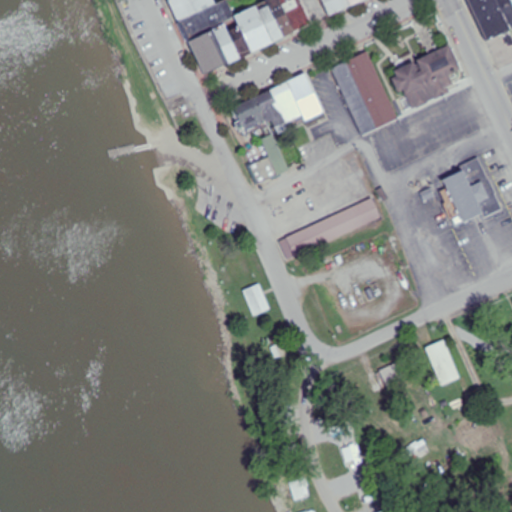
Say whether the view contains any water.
Yes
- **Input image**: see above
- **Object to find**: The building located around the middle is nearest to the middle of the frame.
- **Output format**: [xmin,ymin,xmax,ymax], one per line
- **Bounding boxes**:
[242,283,270,316]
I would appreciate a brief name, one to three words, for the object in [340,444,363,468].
house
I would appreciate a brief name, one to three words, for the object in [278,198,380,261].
building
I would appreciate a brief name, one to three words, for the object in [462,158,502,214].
building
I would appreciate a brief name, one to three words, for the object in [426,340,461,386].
house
